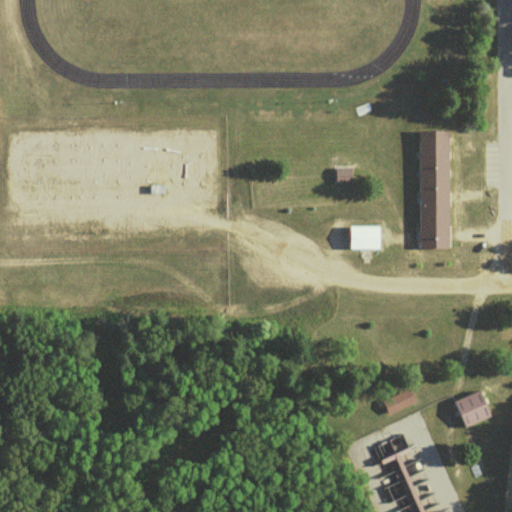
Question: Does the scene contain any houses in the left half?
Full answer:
No, no house appears in the left half.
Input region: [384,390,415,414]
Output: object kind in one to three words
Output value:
shed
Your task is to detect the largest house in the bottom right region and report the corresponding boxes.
[456,392,492,428]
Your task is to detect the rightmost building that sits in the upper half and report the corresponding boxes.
[420,130,451,249]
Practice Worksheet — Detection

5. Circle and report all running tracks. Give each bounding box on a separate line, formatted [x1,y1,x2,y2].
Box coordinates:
[20,0,421,88]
